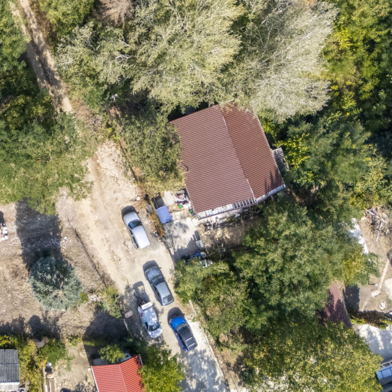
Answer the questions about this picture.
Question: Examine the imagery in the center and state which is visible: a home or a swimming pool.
home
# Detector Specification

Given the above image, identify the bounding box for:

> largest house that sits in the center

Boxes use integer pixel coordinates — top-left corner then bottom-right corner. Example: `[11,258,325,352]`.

[164,103,286,219]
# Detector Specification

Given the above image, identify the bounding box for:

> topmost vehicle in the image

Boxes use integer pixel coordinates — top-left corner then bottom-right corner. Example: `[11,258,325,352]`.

[124,210,151,252]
